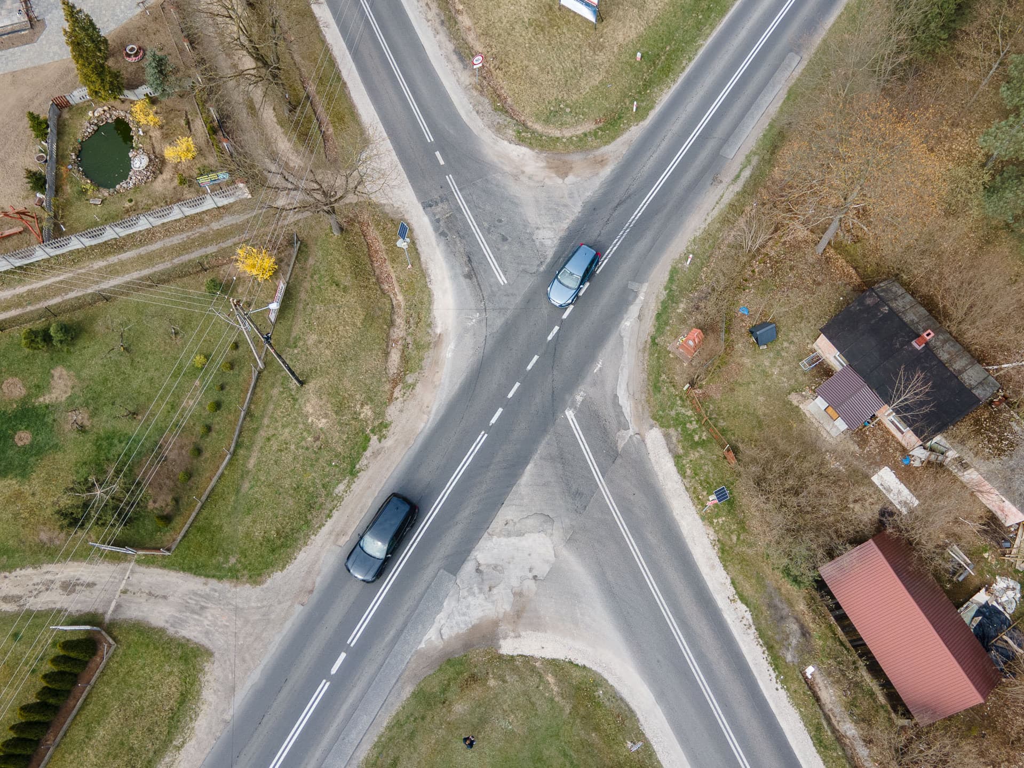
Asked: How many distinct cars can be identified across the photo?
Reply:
2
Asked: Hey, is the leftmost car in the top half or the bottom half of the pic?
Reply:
bottom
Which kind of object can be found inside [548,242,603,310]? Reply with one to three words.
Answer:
car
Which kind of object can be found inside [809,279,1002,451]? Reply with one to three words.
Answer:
house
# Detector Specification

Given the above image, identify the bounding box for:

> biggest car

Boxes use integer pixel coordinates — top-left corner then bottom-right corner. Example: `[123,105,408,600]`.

[346,489,419,583]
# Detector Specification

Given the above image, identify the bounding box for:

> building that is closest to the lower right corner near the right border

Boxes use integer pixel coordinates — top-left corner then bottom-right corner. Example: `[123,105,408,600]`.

[808,527,997,724]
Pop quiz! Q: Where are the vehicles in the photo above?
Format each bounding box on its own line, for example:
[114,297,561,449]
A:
[346,489,419,583]
[548,242,603,310]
